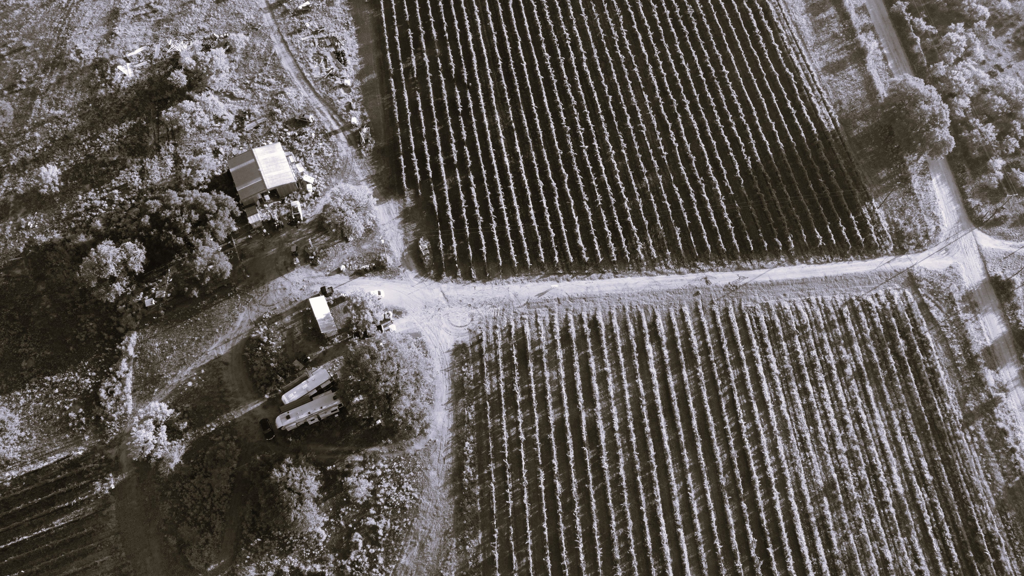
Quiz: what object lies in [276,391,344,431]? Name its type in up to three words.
trailer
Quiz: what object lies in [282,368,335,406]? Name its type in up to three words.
trailer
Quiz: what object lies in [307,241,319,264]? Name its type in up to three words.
vehicle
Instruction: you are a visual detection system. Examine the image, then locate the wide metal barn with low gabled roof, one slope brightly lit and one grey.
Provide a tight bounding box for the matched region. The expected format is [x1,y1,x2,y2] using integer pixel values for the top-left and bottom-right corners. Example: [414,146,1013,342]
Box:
[227,142,298,207]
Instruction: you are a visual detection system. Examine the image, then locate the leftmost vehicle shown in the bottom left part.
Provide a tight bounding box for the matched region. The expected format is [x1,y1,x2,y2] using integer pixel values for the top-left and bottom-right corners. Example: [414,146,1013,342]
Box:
[259,417,276,442]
